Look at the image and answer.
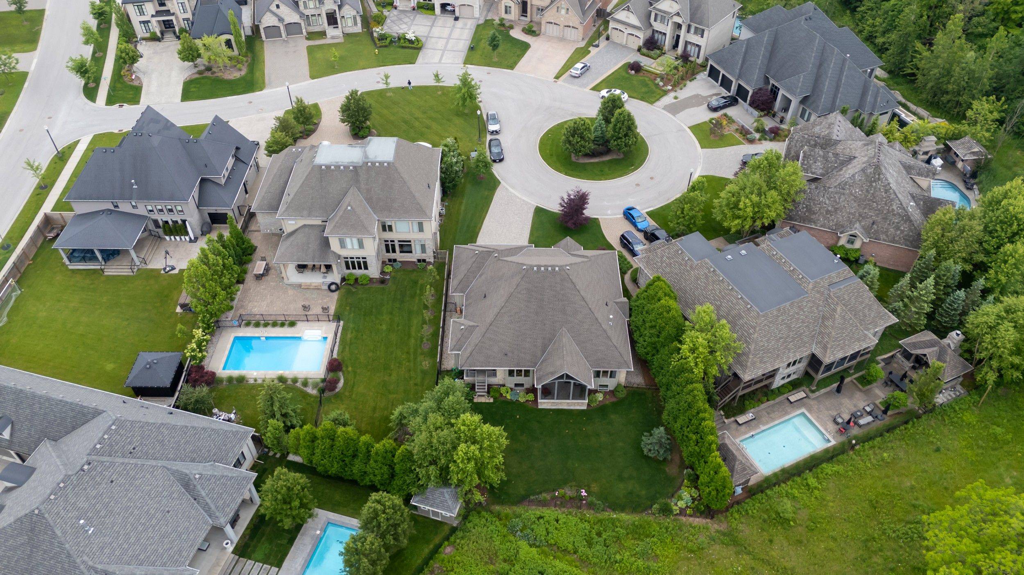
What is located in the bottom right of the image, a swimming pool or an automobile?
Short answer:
swimming pool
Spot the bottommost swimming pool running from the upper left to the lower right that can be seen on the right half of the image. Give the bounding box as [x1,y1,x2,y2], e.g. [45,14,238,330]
[934,181,968,216]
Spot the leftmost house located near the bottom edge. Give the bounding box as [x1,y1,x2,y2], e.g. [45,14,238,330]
[0,365,259,575]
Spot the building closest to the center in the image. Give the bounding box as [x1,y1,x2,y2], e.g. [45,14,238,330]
[448,236,634,408]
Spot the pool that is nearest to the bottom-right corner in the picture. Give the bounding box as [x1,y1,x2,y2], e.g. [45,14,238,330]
[741,412,827,471]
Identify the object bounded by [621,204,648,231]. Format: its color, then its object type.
blue car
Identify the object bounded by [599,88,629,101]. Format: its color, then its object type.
white vehicle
